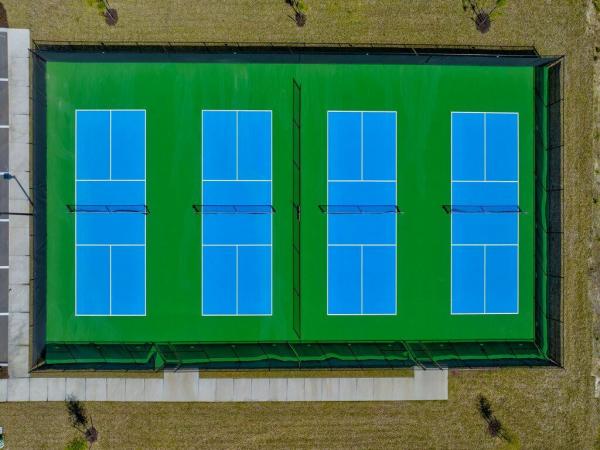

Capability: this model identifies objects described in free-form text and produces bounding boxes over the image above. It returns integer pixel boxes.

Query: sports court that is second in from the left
[202,110,272,316]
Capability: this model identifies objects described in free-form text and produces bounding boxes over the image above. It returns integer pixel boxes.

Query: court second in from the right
[328,111,397,315]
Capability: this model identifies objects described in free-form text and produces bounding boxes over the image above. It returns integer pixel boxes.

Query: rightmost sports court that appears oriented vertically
[451,111,520,315]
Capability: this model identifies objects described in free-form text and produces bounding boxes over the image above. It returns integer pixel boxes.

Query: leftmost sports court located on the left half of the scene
[74,109,146,316]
